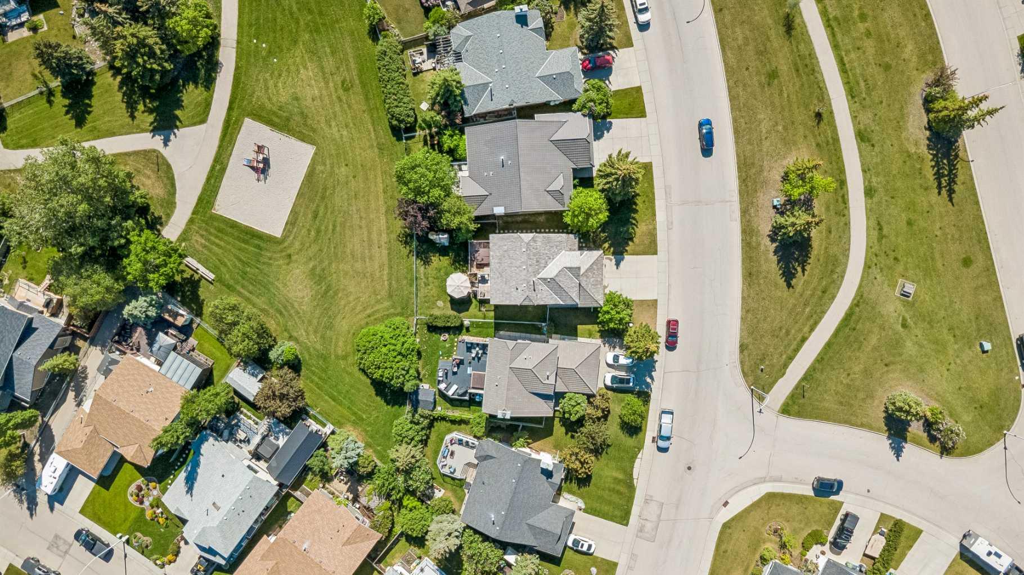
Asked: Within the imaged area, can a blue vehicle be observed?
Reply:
Yes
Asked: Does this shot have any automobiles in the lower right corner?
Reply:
Yes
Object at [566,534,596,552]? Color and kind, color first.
white car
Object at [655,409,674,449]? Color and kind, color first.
white vehicle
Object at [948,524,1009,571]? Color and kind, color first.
white trailer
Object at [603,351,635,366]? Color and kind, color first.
white car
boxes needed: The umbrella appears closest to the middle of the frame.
[444,272,470,299]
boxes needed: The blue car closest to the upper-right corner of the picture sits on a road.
[697,119,713,150]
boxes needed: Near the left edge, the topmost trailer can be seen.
[40,453,74,493]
